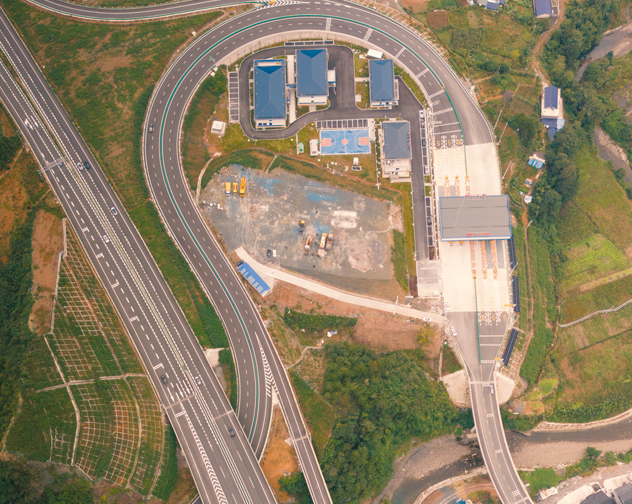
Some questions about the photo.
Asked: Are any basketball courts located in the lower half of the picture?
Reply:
No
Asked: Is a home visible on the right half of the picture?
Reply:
Yes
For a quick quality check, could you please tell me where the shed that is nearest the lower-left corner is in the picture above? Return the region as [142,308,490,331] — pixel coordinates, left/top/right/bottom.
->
[237,262,272,296]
